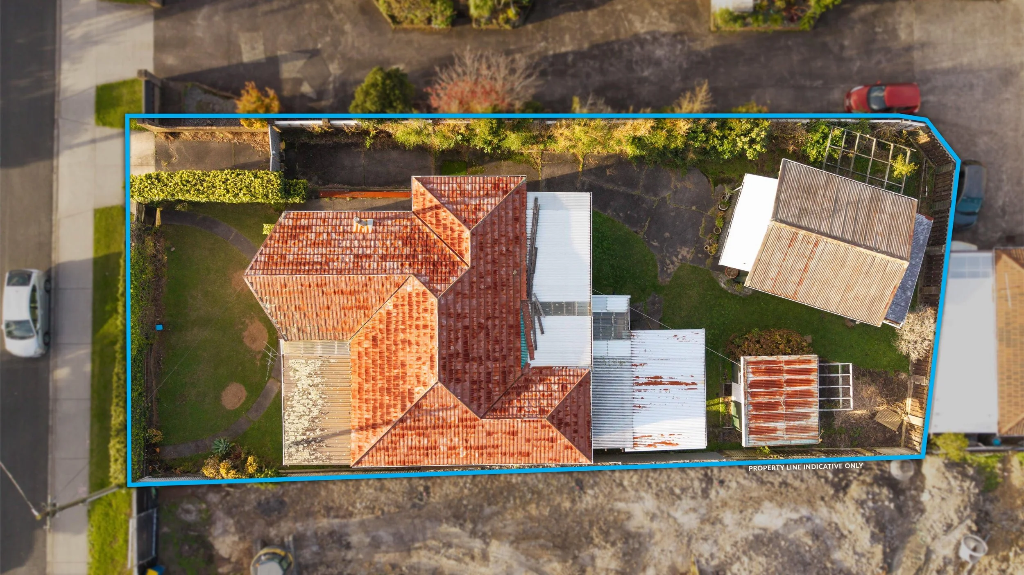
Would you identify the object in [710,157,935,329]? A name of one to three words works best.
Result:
building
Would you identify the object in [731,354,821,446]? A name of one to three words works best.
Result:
shed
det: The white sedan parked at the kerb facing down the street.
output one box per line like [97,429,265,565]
[5,269,56,356]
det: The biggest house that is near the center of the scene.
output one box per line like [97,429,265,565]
[242,174,593,468]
